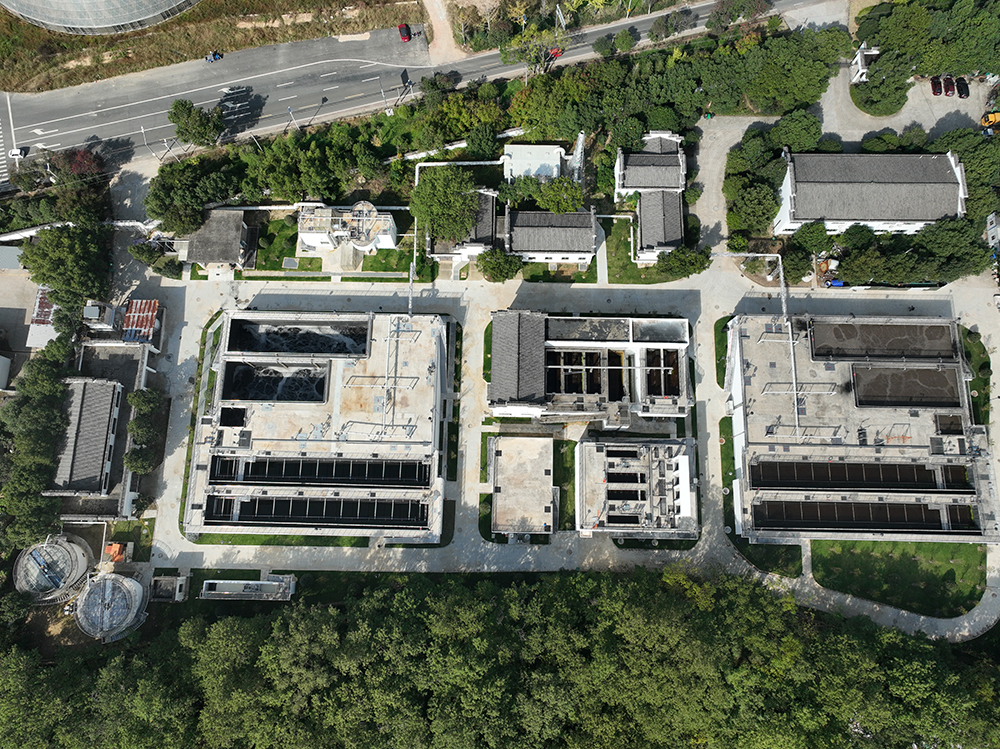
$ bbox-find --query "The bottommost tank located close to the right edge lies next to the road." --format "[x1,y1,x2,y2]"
[719,312,1000,546]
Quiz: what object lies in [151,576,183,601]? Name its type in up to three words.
building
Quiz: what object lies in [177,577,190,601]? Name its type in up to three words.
shed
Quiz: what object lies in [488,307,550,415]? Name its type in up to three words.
house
